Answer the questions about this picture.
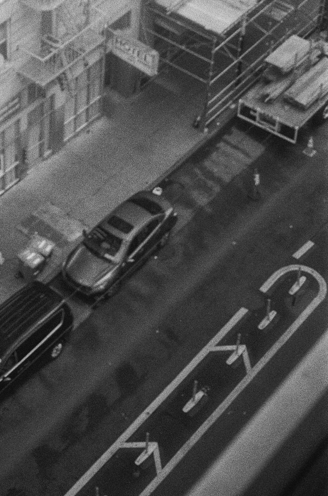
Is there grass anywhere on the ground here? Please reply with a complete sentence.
No, there is no grass in the image.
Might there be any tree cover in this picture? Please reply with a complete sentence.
No, the scene doesn't show any tree cover.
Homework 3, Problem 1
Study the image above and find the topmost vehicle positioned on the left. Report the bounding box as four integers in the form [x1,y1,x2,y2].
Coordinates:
[59,179,191,300]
